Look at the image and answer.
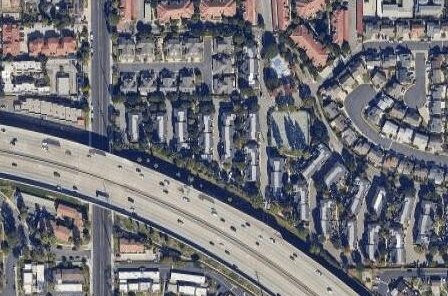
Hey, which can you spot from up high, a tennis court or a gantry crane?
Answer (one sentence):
Looking from above, you can make out a tennis court.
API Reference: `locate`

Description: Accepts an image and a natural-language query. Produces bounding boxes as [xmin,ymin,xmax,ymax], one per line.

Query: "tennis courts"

[271,109,309,146]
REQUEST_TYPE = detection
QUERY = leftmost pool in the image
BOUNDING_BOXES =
[269,54,288,72]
